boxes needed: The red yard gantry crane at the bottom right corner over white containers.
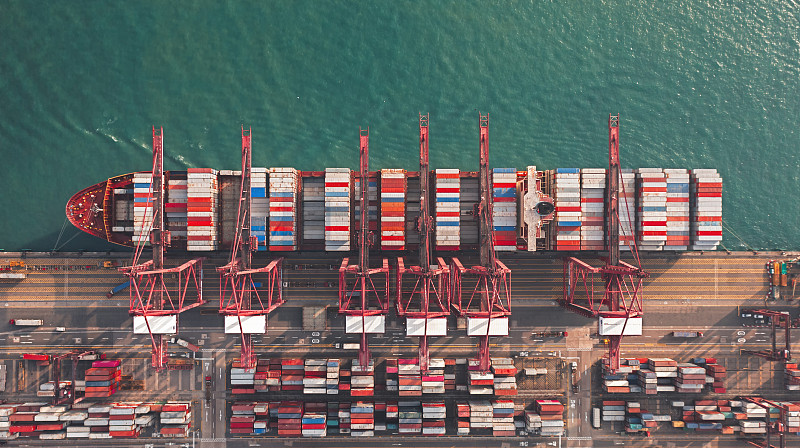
[744,395,785,448]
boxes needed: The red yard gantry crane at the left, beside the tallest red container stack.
[54,346,96,405]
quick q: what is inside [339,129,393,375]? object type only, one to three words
container crane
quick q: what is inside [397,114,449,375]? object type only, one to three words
container crane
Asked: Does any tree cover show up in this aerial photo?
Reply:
No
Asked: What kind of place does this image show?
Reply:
port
